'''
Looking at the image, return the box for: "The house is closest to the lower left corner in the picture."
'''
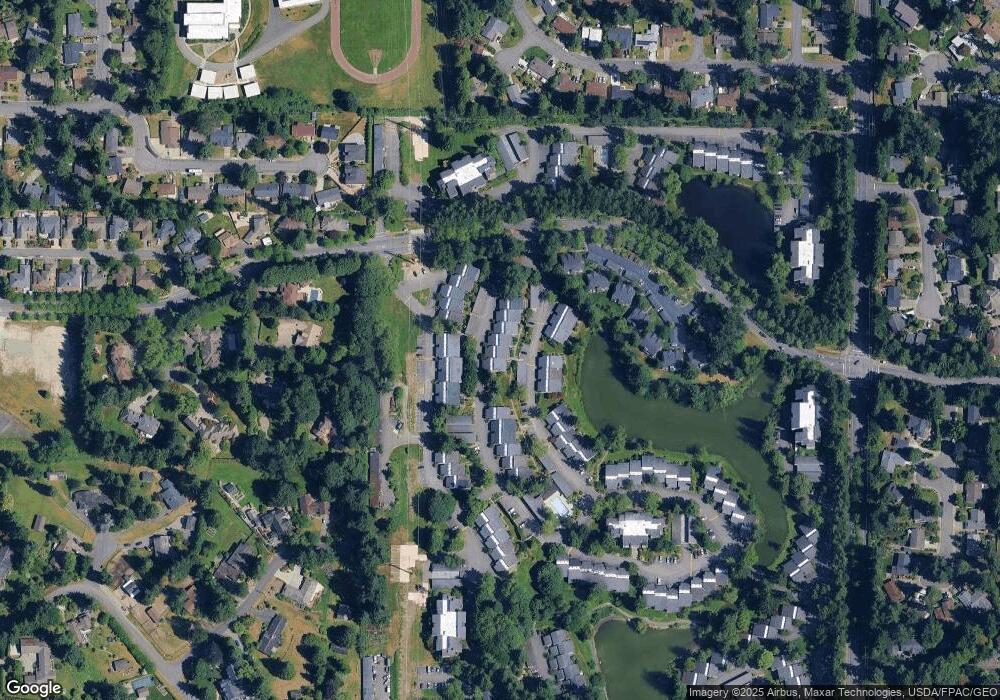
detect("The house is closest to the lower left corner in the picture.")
[20,638,50,679]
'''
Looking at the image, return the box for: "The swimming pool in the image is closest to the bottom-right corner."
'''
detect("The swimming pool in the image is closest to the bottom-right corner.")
[545,491,575,522]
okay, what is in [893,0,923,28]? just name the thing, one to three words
house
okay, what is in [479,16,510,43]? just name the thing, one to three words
house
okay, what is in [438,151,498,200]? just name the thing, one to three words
building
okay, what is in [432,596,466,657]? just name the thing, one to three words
building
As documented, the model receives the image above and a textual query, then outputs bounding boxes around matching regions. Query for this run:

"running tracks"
[330,0,421,83]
